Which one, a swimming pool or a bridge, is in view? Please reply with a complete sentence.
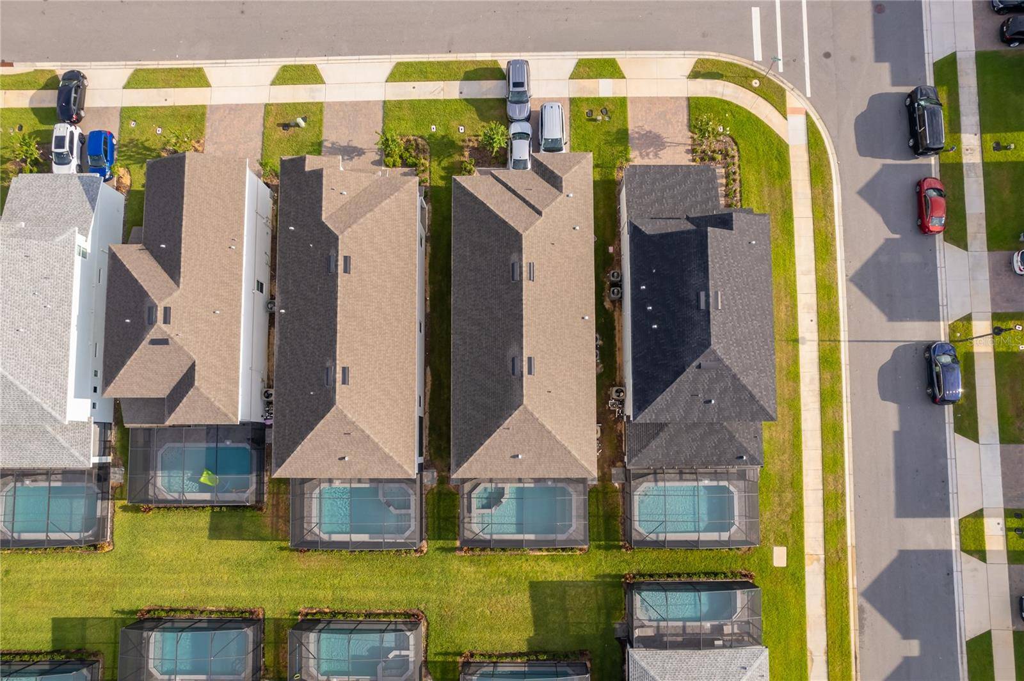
This aerial view contains a swimming pool.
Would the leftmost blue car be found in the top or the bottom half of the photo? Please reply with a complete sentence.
The leftmost blue car sits in the top half of the picture.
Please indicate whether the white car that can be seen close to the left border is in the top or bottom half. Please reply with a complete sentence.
The white car that can be seen close to the left border is in the top half of the image.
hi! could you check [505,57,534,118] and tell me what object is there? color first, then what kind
gray car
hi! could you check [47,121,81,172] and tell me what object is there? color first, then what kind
white car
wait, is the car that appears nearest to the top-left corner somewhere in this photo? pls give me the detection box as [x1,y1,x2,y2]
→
[53,70,87,125]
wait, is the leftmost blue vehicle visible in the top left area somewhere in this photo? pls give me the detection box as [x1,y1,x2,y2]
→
[82,127,113,180]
